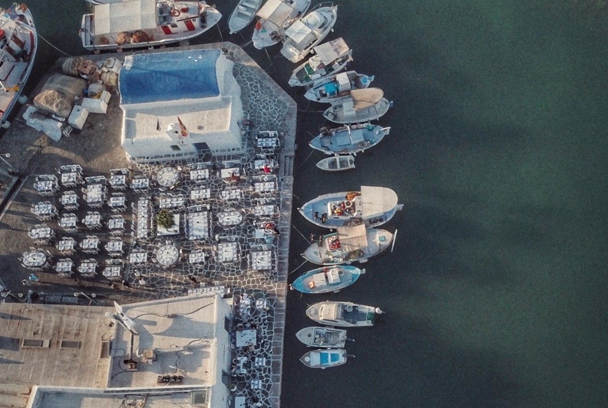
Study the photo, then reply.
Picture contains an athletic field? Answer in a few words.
No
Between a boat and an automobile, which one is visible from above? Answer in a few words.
boat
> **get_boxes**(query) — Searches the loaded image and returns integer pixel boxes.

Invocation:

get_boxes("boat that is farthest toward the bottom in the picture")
[299,349,350,368]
